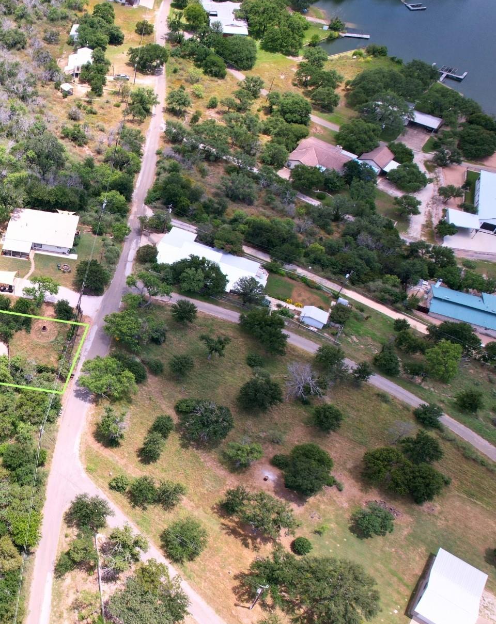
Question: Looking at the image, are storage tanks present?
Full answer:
No, the frame has no storage tank in it.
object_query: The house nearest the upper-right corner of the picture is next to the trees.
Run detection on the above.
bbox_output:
[378,103,444,135]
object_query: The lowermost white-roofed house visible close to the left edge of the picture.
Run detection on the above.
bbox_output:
[0,209,81,261]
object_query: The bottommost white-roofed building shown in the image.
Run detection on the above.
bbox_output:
[410,549,489,624]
